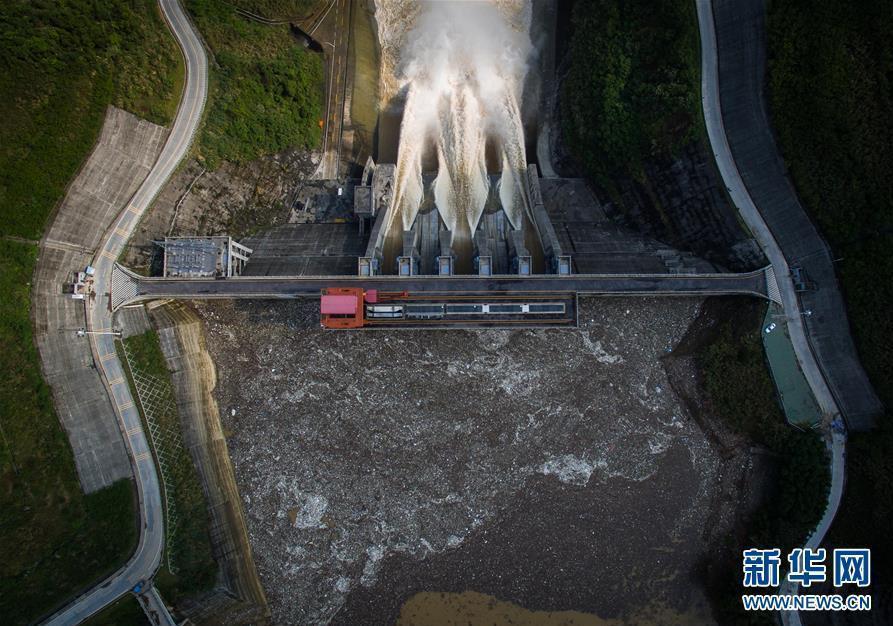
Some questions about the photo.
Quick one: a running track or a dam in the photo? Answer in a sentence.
The one in the frame is a dam.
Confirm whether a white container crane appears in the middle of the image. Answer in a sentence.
No, no white container crane can be made out in the middle of the image.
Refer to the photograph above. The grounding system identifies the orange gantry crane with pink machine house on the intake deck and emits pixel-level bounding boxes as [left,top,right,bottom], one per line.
[320,289,407,329]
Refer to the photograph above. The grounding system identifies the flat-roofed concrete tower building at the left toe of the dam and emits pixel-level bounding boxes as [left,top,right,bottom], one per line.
[354,187,378,221]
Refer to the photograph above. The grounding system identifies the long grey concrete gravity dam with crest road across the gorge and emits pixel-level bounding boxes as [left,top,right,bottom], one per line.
[110,159,786,330]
